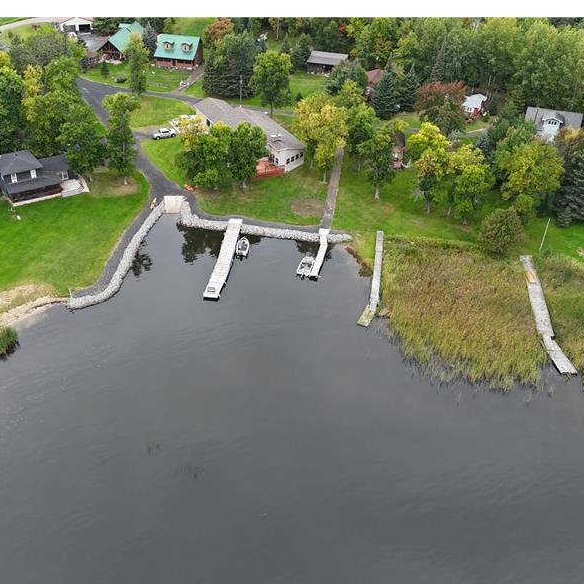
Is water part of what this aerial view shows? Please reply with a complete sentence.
Yes, some water is visible.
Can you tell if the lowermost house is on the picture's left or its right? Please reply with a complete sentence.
The lowermost house sits on the left side.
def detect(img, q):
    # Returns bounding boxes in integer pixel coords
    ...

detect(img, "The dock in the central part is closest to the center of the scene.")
[308,230,330,279]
